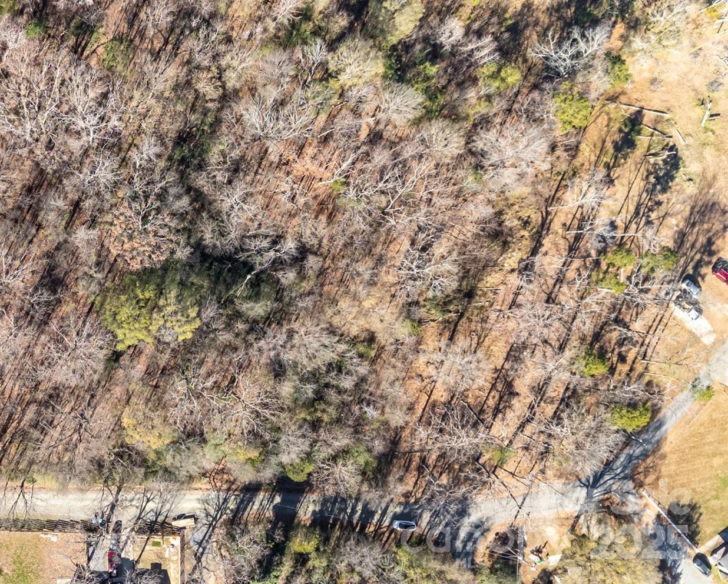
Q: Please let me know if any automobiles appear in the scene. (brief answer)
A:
Yes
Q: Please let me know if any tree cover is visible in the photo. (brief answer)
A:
Yes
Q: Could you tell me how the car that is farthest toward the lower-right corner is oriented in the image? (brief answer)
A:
diagonally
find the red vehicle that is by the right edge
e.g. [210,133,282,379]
[713,263,728,283]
